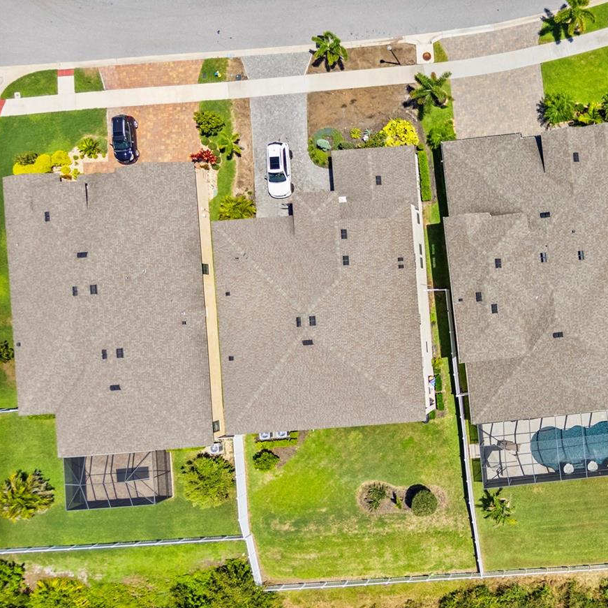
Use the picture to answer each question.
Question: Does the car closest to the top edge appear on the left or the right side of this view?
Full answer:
You can find the car closest to the top edge on the left side of the picture.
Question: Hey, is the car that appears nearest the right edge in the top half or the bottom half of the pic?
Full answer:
The top half of the photo is where the car that appears nearest the right edge is.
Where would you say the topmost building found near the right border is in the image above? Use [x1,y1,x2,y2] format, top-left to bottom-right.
[441,127,608,425]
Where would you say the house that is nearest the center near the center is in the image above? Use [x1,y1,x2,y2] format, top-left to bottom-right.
[211,145,437,438]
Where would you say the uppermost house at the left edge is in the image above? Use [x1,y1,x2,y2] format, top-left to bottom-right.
[2,163,227,458]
